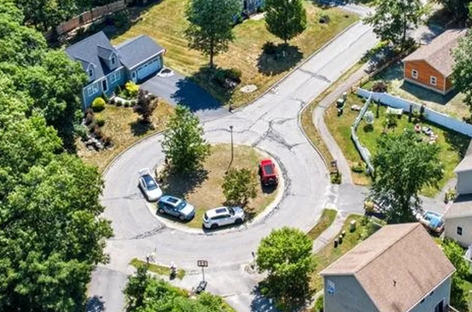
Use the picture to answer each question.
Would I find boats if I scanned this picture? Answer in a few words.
Yes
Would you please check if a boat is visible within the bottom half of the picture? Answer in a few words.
Yes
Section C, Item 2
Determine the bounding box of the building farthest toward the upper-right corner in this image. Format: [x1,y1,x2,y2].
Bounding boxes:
[403,28,472,96]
